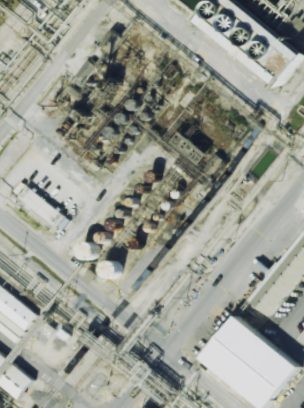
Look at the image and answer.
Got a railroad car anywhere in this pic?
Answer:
Yes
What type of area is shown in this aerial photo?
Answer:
industrial area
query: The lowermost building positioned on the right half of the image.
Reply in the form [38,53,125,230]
[196,315,302,408]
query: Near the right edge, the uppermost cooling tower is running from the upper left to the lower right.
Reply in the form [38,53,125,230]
[192,0,304,90]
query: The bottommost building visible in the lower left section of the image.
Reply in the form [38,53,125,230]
[0,364,39,400]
